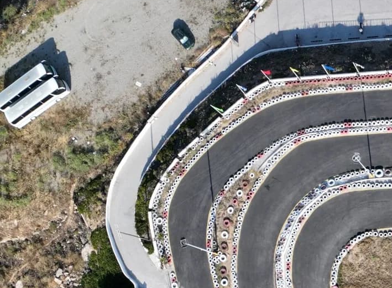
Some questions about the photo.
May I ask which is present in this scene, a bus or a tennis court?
bus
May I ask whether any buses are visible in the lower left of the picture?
No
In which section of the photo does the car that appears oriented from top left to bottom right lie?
top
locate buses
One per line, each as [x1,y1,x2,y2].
[0,57,62,111]
[2,74,73,129]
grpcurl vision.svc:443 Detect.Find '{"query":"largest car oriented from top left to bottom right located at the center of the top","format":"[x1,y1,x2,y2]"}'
[170,19,196,50]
